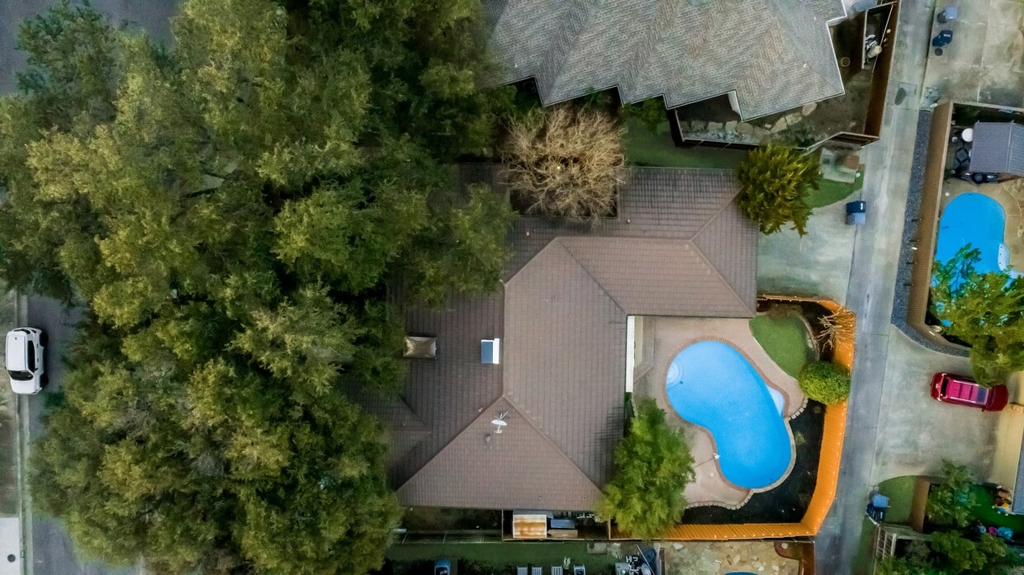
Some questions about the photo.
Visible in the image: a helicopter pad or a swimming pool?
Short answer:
swimming pool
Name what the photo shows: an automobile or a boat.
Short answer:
automobile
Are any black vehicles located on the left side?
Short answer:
No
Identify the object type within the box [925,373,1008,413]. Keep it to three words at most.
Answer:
car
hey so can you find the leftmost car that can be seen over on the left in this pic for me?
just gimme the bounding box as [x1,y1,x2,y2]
[5,327,49,395]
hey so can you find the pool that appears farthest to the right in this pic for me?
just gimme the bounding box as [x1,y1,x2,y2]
[933,189,1024,330]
